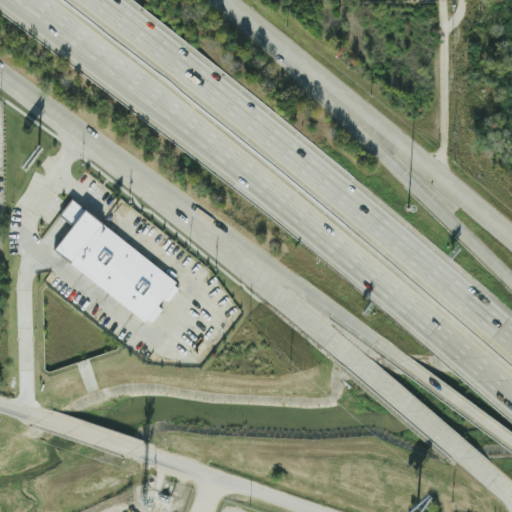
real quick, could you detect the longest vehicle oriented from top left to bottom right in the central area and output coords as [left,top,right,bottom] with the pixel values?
[194,204,230,234]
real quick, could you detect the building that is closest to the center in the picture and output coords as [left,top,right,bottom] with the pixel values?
[55,200,179,324]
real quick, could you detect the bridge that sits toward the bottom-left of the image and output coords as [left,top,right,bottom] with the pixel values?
[38,411,150,458]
